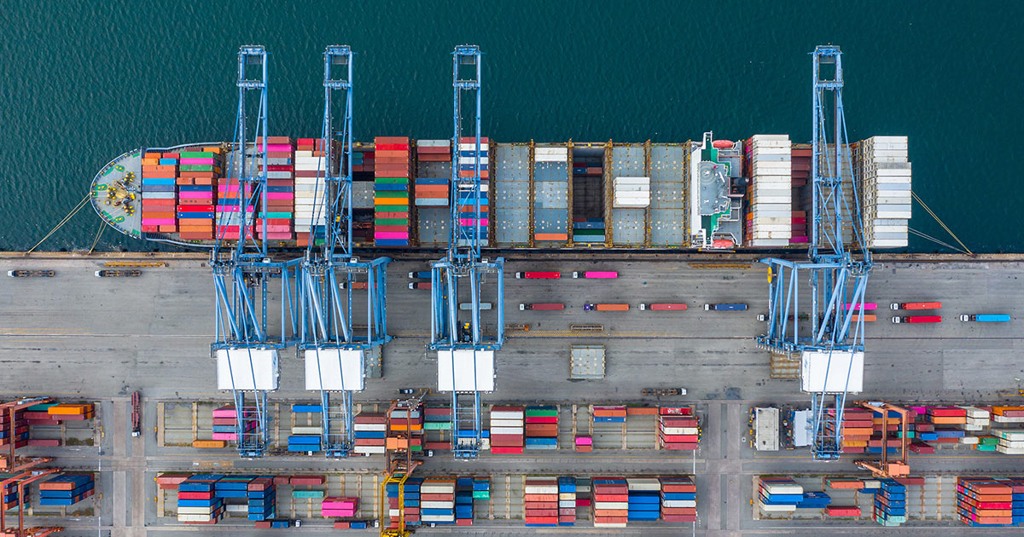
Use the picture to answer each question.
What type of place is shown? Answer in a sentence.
It's a port.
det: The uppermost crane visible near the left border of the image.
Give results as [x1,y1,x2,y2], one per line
[0,393,56,473]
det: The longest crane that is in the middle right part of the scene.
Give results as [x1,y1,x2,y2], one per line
[745,44,876,461]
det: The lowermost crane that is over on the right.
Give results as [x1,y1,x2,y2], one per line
[851,397,910,481]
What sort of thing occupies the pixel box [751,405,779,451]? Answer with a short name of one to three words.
shed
